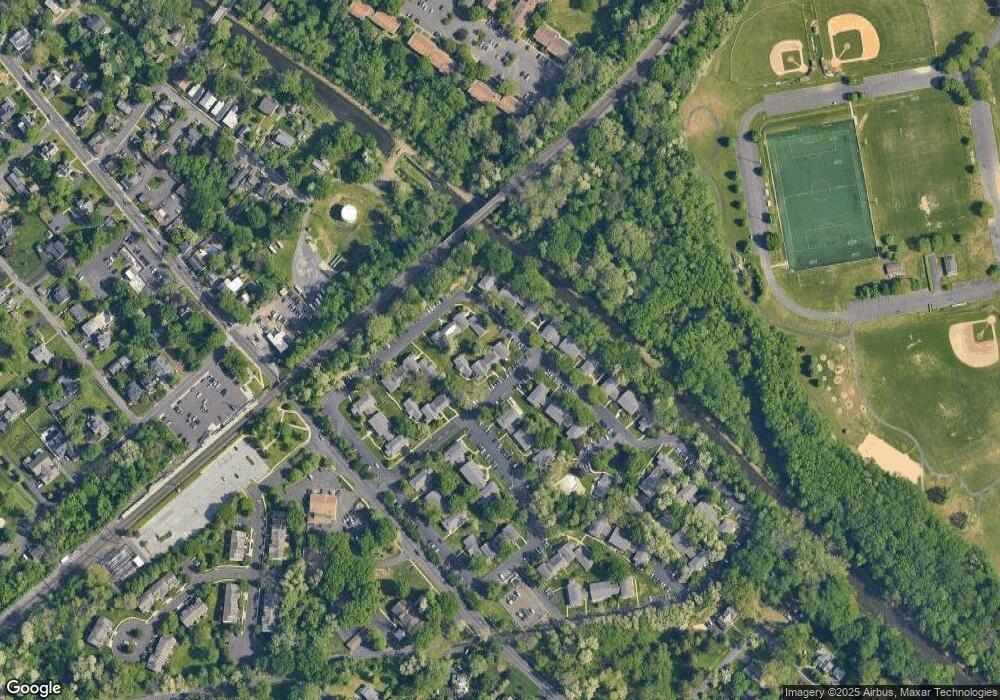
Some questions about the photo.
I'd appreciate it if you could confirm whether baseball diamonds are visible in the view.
Yes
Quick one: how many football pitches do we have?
two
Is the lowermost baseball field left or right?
right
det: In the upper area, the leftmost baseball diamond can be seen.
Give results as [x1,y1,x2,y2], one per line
[730,1,812,88]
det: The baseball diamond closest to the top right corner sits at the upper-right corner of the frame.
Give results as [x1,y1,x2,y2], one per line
[823,0,938,76]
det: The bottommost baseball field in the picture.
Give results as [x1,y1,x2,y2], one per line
[852,309,1000,470]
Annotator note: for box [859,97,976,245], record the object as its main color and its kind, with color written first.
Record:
green soccer field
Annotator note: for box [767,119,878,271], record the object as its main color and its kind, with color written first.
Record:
green soccer field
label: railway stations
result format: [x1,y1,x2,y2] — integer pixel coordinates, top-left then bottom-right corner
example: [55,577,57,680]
[121,387,255,516]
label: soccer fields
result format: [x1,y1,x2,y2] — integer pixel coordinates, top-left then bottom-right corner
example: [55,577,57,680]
[767,119,878,271]
[859,97,976,245]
